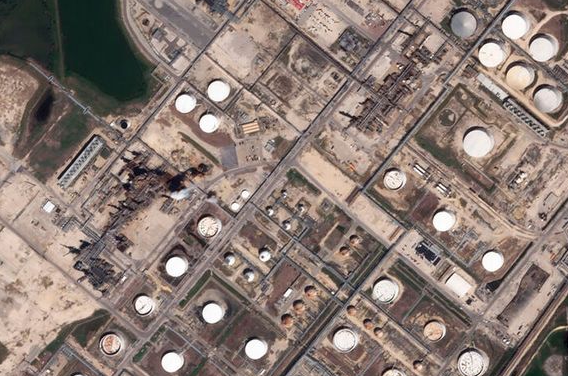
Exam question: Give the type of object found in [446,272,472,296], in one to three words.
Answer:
building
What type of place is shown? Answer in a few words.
industrial area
